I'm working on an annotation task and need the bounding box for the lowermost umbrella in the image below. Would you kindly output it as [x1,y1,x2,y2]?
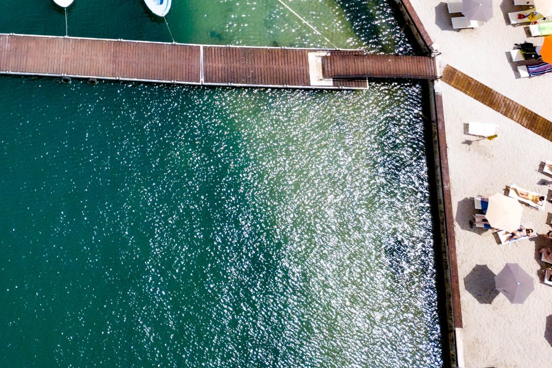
[494,265,534,303]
